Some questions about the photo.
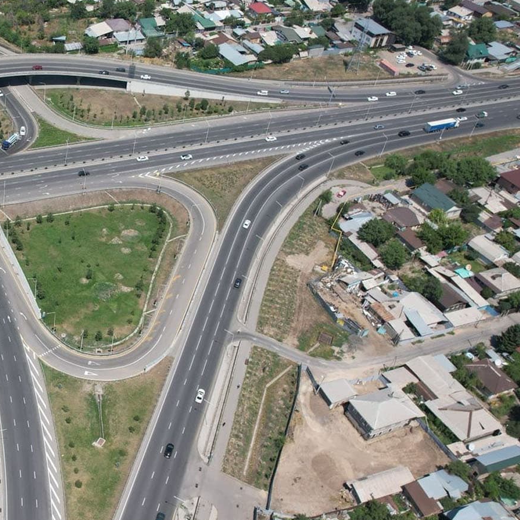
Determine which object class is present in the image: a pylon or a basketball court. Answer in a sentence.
This aerial view contains a pylon.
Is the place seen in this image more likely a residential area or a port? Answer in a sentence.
This looks like a residential area.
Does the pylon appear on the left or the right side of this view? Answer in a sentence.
The pylon appears in the right half of the scene.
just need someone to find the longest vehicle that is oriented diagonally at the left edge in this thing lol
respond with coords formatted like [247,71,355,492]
[1,132,19,149]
